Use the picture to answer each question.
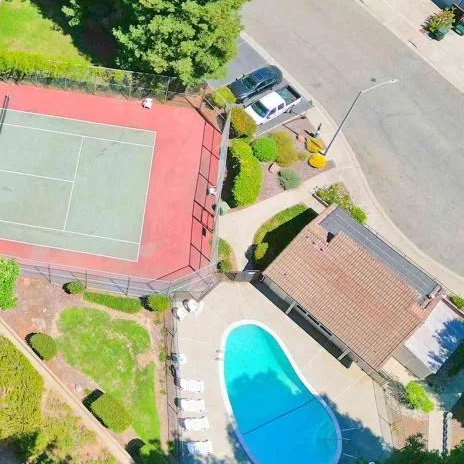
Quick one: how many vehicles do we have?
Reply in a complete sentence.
Looking from above, you can make out 2 vehicles.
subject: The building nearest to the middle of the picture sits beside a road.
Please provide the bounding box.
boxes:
[262,199,443,369]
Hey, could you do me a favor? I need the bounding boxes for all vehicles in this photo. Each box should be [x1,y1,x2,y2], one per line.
[246,76,309,124]
[224,65,282,102]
